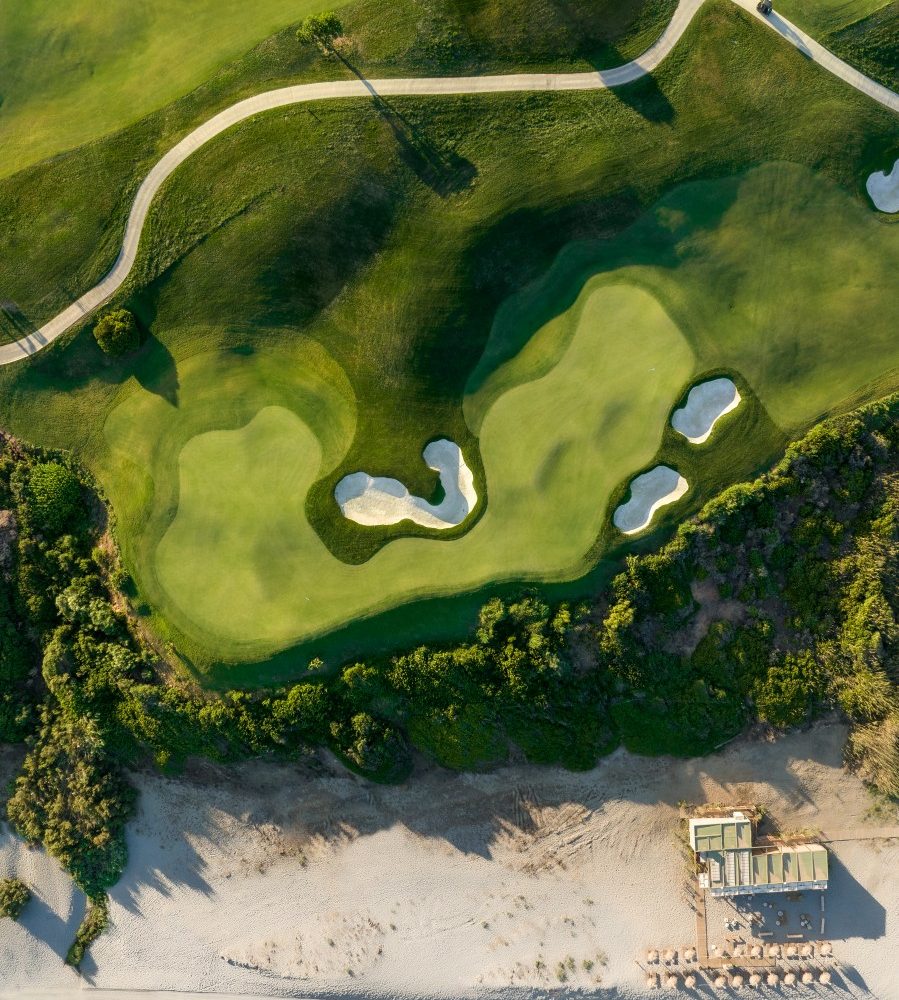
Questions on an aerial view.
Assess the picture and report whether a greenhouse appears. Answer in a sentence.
No, there isn't any greenhouse down there.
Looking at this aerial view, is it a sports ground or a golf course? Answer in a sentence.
What you see here is a golf course.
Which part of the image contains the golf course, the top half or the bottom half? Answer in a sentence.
You can find the golf course in the top half.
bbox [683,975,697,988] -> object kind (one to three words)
umbrella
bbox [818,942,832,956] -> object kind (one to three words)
umbrella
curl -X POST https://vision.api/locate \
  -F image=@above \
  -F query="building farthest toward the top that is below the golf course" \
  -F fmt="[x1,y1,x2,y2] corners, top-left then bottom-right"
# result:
[687,813,829,896]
